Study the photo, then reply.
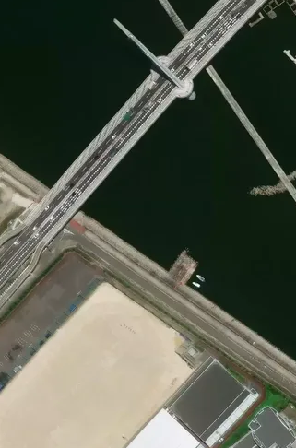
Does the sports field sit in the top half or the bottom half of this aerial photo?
bottom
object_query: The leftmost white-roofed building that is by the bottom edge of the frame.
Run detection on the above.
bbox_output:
[127,409,208,448]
